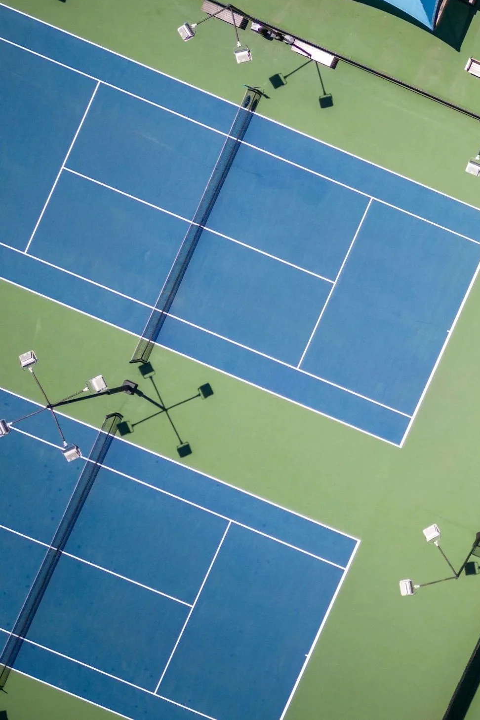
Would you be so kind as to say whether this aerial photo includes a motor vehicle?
No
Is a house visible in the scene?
No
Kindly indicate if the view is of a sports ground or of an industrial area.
sports ground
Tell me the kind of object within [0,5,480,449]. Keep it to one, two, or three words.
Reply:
tennis court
